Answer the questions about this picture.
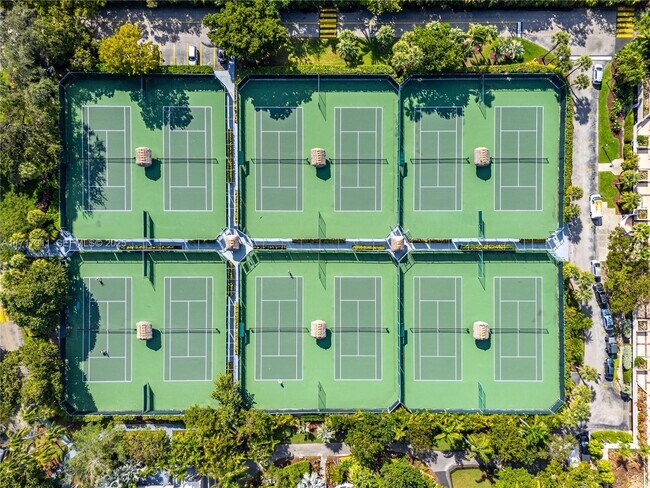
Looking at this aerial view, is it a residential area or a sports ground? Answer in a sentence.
What you see here is a sports ground.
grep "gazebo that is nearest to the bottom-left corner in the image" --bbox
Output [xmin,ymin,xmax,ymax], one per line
[138,320,155,340]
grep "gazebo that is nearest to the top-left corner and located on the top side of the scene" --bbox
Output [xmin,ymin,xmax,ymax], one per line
[137,148,154,168]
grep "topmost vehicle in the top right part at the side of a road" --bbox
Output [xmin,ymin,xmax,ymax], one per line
[592,64,604,86]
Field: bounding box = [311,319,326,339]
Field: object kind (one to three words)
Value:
gazebo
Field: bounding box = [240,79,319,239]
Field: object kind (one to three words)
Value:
tennis court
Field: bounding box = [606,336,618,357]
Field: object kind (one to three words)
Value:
vehicle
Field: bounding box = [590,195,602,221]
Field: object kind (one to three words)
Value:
vehicle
